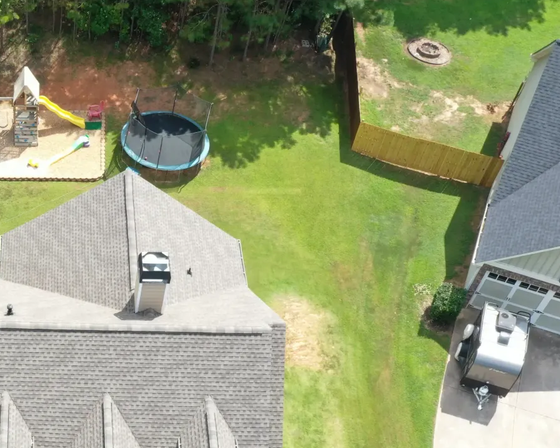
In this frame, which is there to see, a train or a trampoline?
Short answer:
trampoline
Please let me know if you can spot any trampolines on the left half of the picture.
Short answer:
Yes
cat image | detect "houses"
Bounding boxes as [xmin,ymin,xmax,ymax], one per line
[462,34,560,334]
[0,169,288,448]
